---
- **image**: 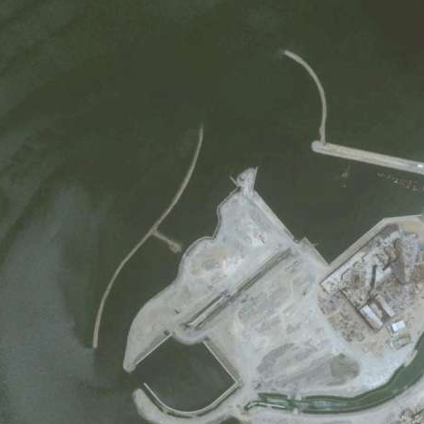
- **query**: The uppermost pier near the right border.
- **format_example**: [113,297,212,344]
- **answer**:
[313,142,424,174]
